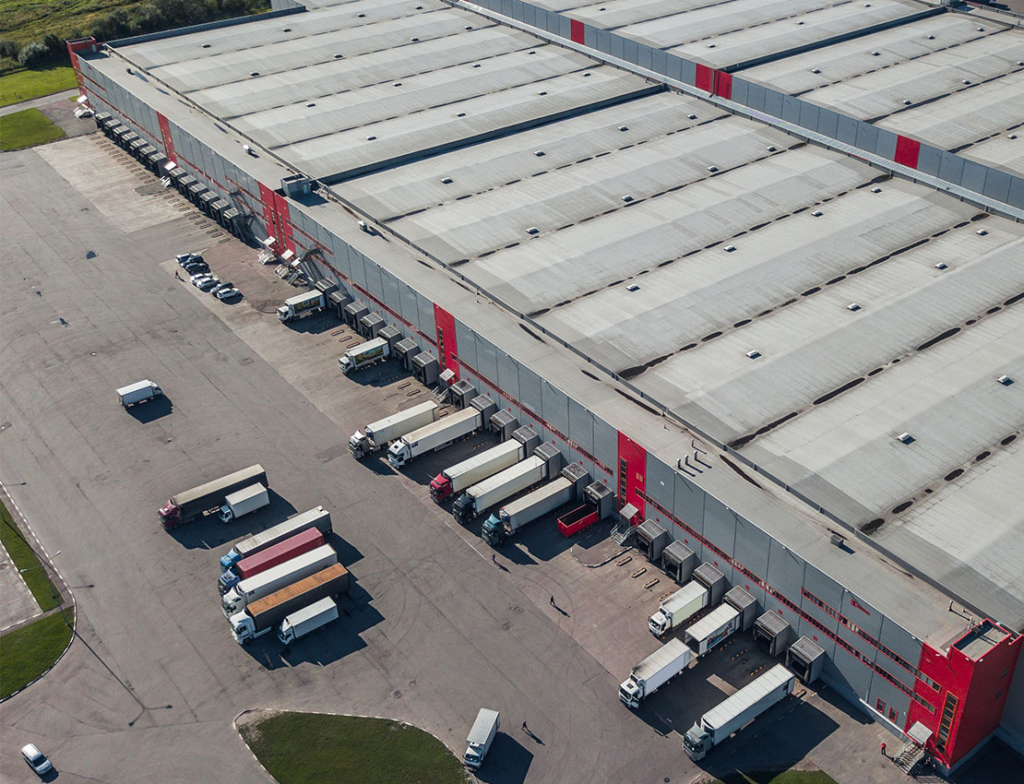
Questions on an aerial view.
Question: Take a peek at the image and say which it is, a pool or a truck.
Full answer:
Visible in the photo is a truck.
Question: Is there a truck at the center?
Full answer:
Yes, there is a truck at the center.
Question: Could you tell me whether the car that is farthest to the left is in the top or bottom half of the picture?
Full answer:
The car that is farthest to the left is in the bottom half of the image.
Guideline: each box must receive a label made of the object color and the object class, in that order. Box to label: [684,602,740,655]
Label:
white trailer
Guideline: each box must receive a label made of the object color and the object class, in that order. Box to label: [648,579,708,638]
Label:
white truck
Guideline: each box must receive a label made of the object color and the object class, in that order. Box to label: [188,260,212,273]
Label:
black vehicle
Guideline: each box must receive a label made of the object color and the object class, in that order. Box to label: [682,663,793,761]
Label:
white truck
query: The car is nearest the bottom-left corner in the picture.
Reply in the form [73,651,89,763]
[22,741,51,775]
